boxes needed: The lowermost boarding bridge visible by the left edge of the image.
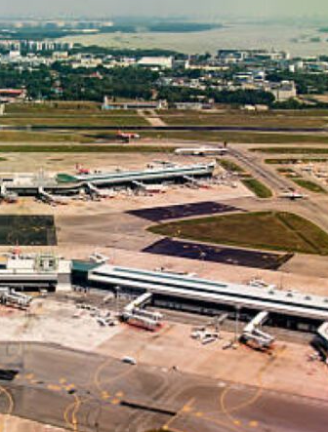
[3,285,35,306]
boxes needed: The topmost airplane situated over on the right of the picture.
[173,140,226,156]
